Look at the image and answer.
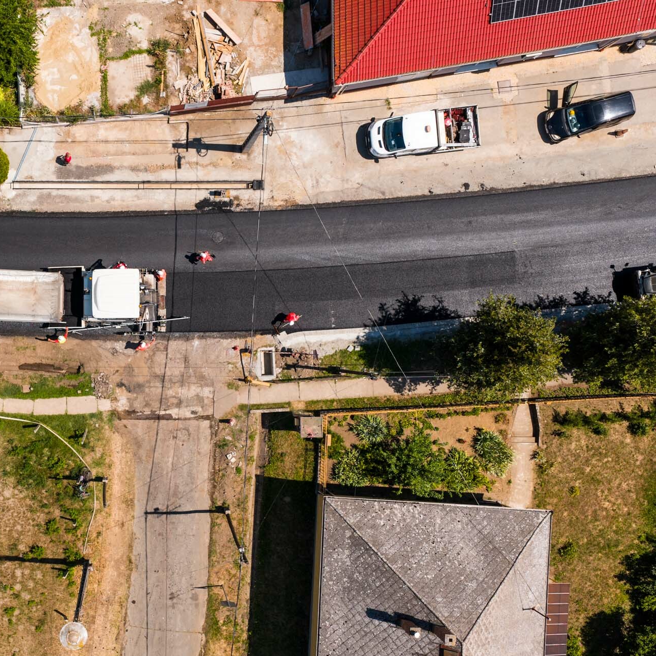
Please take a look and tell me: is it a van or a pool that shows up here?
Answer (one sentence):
It is a van that can be seen here.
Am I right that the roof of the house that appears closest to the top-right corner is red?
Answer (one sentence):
Yes, red is the color of the roof of the house that appears closest to the top-right corner.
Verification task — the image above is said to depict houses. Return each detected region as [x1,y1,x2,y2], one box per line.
[325,0,656,96]
[308,490,555,656]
